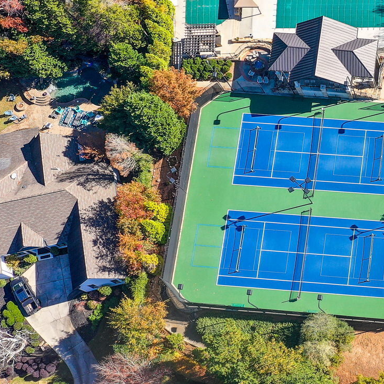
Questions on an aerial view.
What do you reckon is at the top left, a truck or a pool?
pool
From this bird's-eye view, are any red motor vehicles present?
No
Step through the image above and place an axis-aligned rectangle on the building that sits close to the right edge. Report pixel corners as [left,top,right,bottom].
[265,16,378,99]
